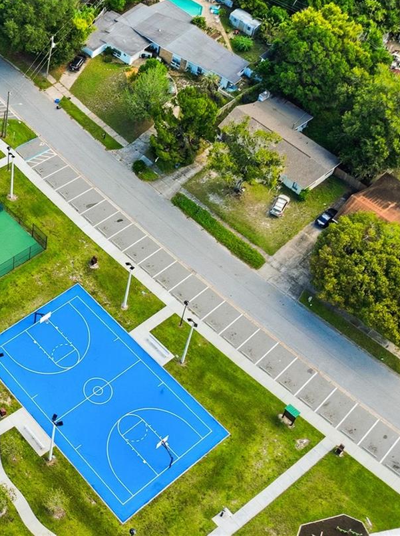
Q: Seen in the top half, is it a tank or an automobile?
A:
automobile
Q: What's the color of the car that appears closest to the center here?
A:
white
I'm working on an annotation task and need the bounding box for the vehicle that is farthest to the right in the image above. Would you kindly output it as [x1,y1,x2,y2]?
[315,204,340,229]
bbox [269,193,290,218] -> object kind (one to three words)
car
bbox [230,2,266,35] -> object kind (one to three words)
shed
